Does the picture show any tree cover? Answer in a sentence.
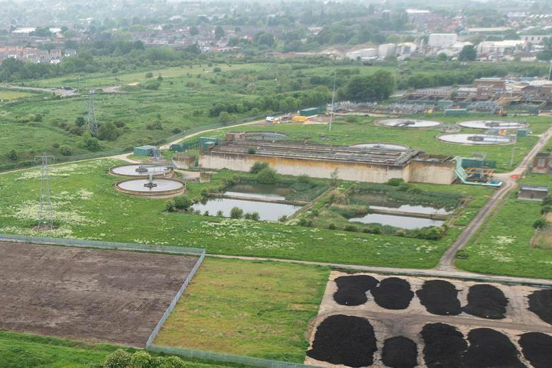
Yes, tree cover shows up in the scene.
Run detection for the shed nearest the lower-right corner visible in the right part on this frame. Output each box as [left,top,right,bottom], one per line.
[518,185,549,203]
